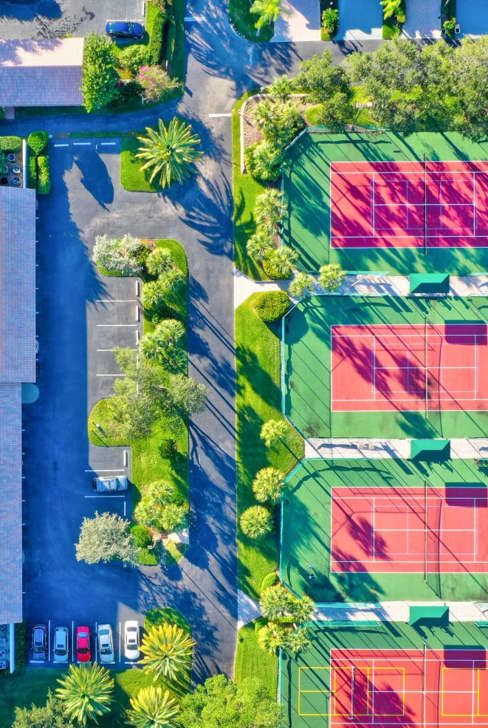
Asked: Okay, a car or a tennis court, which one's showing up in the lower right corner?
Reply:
tennis court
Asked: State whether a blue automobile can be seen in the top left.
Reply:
Yes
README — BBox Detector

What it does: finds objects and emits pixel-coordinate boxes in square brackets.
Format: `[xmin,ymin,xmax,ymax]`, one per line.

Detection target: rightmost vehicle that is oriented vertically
[124,621,140,659]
